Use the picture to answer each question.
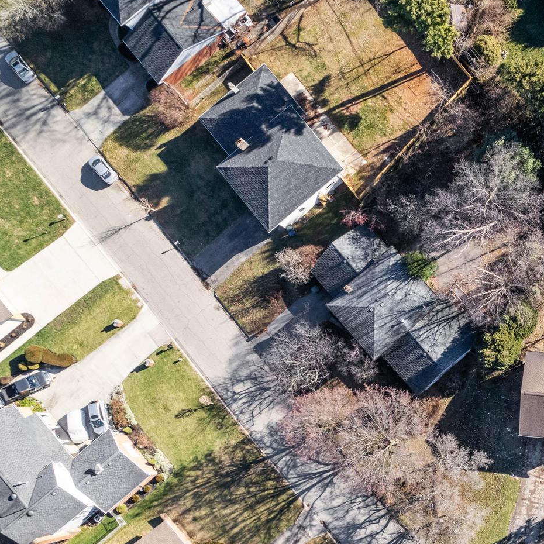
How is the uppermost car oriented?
at an angle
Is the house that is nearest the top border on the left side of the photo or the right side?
left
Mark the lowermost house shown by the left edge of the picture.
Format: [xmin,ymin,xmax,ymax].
[0,378,160,544]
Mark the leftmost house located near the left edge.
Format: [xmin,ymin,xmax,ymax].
[0,295,26,337]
